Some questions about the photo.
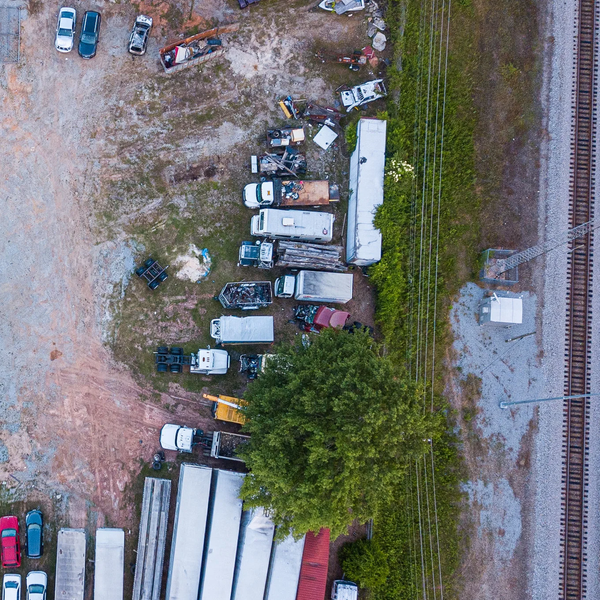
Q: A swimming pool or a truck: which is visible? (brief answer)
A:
truck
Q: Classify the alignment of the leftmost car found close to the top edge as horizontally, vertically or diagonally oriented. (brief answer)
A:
vertically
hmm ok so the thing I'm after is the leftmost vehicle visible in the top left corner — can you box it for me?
[55,5,76,54]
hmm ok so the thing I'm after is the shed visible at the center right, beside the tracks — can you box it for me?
[488,290,535,330]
